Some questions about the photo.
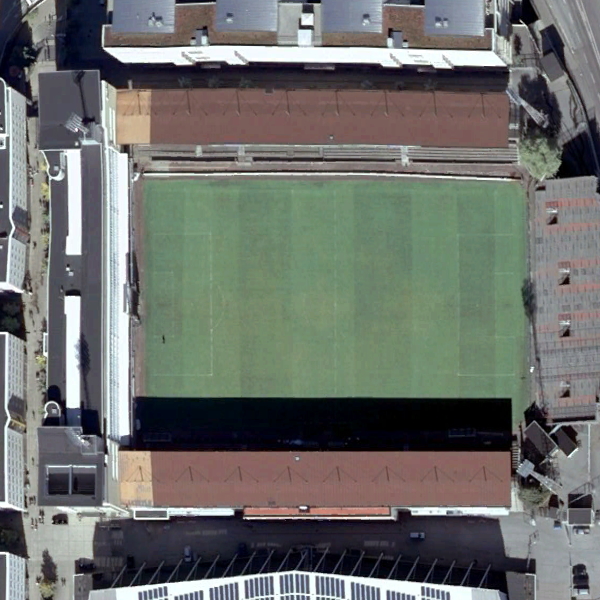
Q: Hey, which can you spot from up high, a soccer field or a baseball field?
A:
soccer field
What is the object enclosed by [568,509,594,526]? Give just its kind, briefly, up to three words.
shed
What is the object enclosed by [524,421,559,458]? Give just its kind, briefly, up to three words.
shed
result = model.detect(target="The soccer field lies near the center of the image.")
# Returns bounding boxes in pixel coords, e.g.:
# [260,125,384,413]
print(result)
[138,179,527,445]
